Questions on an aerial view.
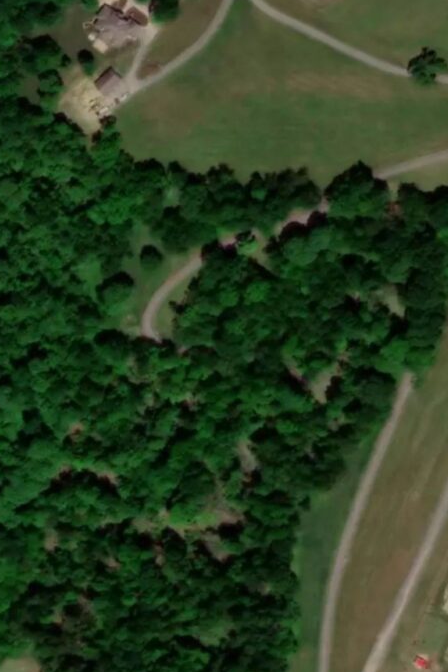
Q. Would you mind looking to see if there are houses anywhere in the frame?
Yes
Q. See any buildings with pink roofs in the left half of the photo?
No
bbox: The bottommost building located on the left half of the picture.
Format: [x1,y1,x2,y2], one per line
[97,67,124,95]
